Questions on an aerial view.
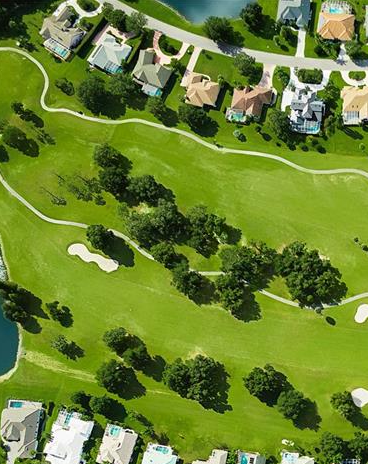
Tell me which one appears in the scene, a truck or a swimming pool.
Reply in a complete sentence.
There is a swimming pool in the scene.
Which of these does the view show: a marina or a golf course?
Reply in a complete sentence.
It's a golf course.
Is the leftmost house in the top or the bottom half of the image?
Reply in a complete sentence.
It is in the bottom half that the leftmost house appears.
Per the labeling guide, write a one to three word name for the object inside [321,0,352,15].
swimming pool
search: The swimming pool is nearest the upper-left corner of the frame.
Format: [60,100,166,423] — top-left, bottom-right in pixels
[43,39,71,59]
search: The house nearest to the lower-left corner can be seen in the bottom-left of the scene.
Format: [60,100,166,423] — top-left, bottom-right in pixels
[2,408,46,458]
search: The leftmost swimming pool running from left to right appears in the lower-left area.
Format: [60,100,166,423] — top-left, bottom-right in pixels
[7,398,42,410]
